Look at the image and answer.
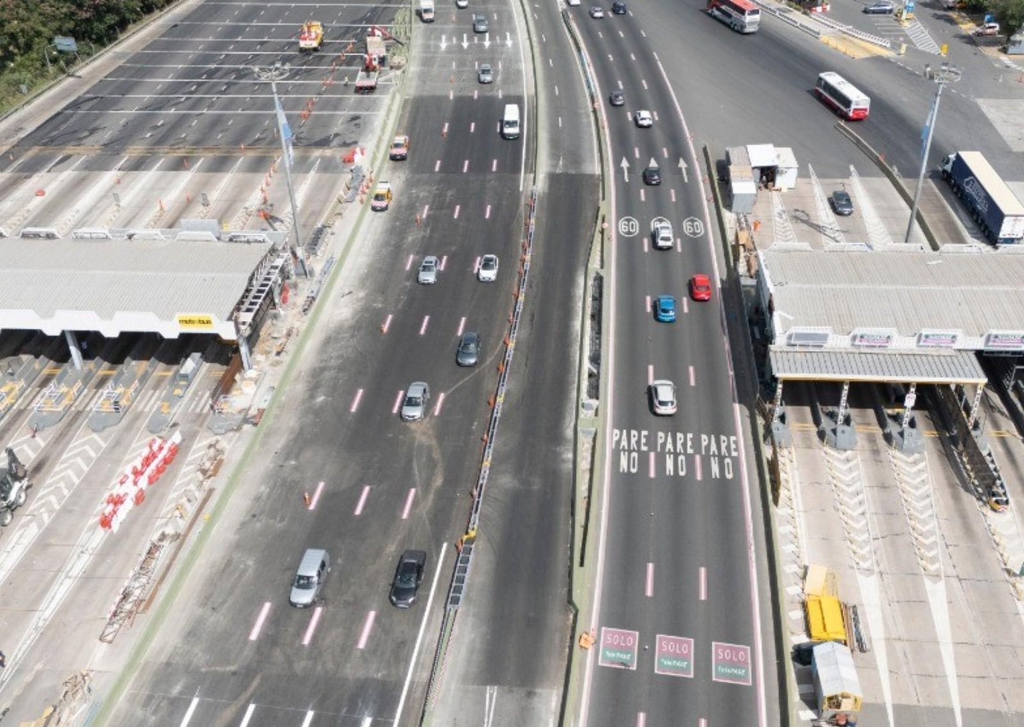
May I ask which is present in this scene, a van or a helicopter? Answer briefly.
van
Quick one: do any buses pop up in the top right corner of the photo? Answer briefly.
Yes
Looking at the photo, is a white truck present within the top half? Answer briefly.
Yes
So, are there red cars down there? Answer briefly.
Yes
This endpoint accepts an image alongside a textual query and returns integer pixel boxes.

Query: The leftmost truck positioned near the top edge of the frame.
[299,12,330,48]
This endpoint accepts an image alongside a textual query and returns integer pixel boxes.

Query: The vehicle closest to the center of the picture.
[457,329,484,364]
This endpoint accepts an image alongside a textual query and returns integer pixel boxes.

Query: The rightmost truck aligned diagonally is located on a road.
[947,148,1024,247]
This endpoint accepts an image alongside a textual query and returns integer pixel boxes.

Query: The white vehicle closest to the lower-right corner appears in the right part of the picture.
[652,374,680,412]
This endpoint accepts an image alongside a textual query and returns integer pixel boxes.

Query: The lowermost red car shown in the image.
[690,272,713,298]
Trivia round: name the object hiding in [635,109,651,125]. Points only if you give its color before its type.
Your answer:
white car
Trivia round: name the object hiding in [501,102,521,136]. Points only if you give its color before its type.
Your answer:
white vehicle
